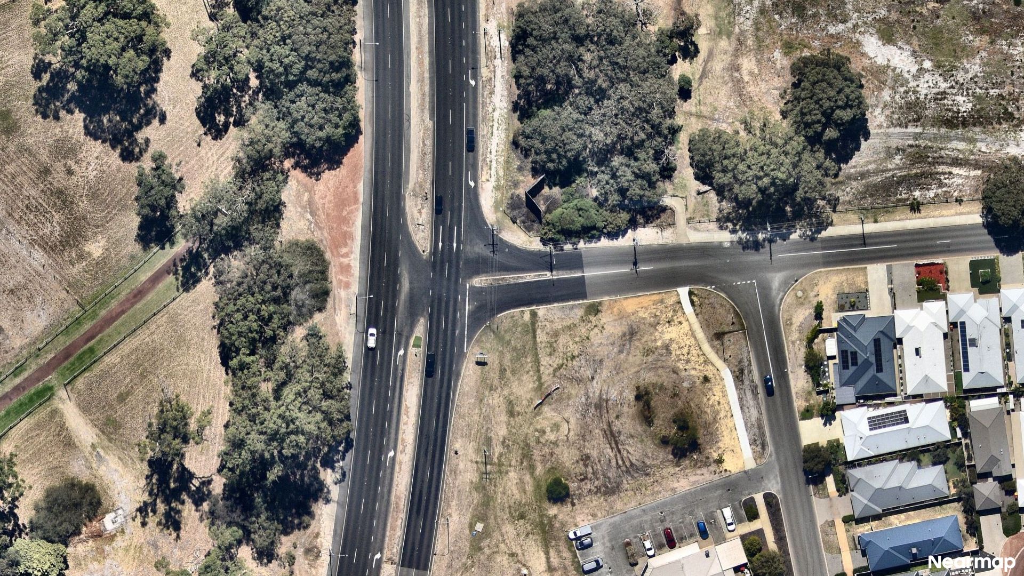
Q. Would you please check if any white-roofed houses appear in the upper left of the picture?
No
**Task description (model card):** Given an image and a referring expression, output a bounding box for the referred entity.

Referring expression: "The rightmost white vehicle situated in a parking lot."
[721,506,735,531]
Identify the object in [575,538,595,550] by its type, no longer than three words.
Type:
vehicle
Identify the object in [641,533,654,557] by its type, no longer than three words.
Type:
vehicle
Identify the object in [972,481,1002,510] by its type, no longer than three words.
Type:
building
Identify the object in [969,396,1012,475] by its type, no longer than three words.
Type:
house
